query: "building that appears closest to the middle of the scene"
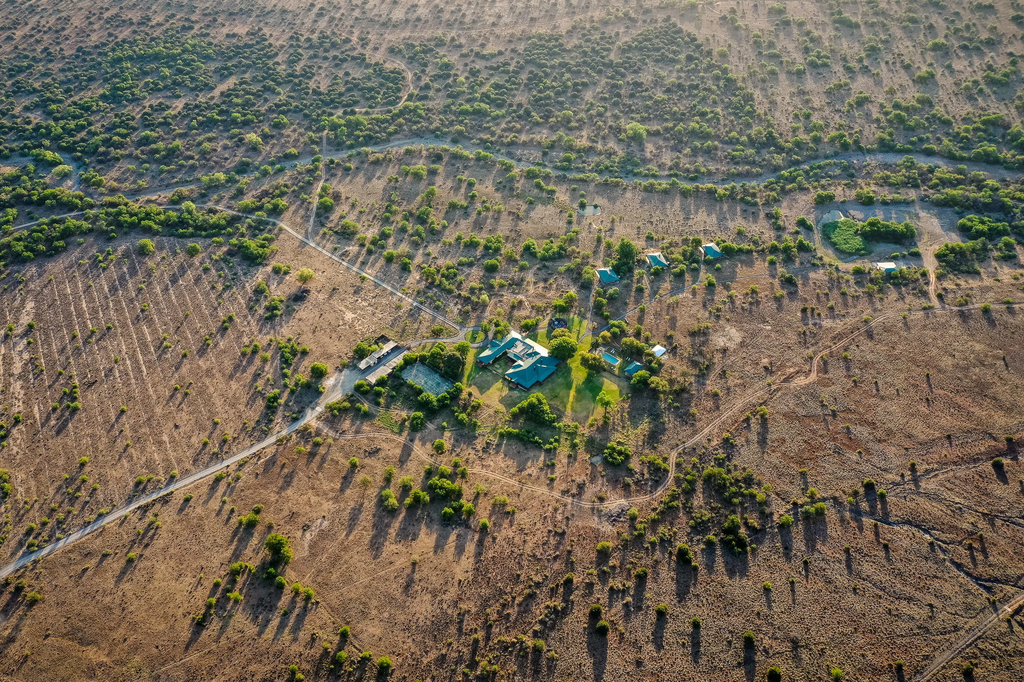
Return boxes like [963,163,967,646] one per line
[476,330,561,392]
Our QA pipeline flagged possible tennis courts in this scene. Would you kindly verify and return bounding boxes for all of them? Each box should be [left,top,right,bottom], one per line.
[413,362,453,394]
